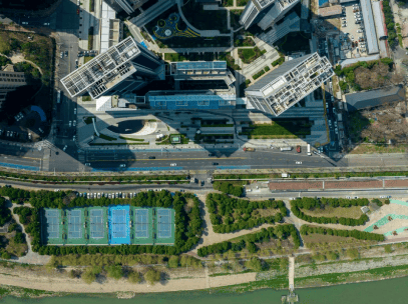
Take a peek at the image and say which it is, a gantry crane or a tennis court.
tennis court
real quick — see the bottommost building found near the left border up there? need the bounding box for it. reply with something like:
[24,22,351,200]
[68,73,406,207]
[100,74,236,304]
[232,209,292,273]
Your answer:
[0,68,27,125]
